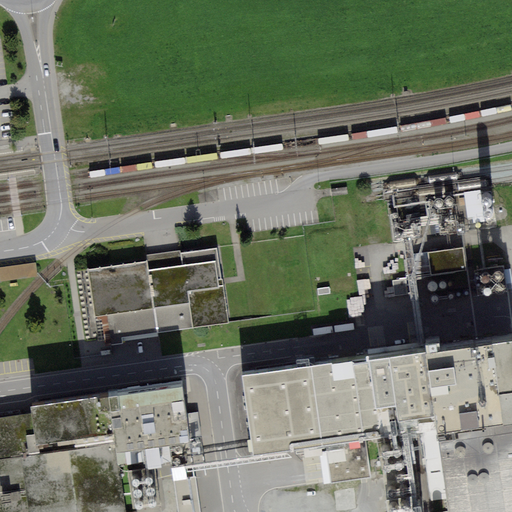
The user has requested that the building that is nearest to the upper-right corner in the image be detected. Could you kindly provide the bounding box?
[464,190,484,223]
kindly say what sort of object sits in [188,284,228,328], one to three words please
building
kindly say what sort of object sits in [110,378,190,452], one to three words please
building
